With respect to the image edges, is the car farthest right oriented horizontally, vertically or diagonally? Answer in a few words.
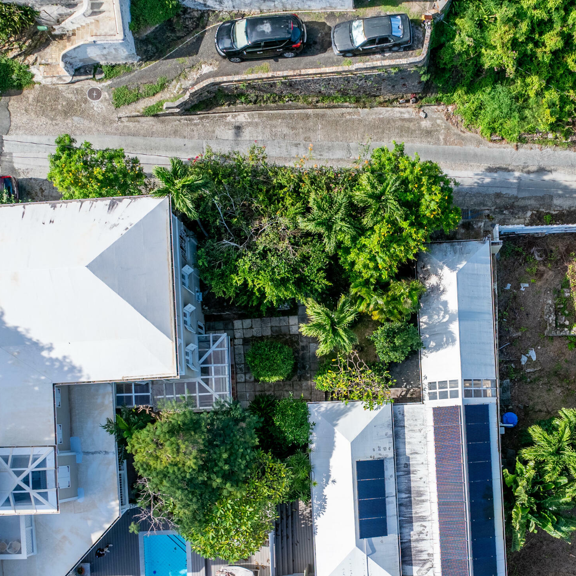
horizontally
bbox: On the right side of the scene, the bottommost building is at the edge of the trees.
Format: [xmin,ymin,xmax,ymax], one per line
[279,240,509,576]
